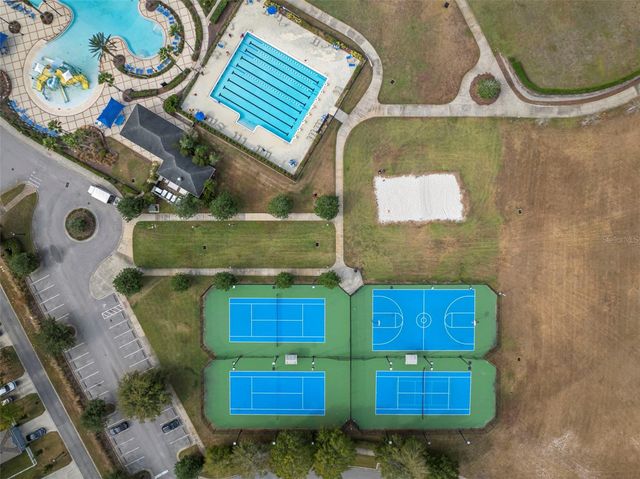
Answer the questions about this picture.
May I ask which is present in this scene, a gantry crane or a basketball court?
basketball court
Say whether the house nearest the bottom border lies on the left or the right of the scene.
left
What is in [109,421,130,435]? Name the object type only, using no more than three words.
car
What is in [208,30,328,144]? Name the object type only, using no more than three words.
swimming pool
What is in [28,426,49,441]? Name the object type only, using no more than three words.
car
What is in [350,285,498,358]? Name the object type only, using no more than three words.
basketball court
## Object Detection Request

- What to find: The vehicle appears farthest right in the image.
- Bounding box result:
[161,418,182,432]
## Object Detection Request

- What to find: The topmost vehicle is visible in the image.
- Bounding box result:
[88,185,120,204]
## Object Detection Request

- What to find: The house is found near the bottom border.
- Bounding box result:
[0,422,35,465]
